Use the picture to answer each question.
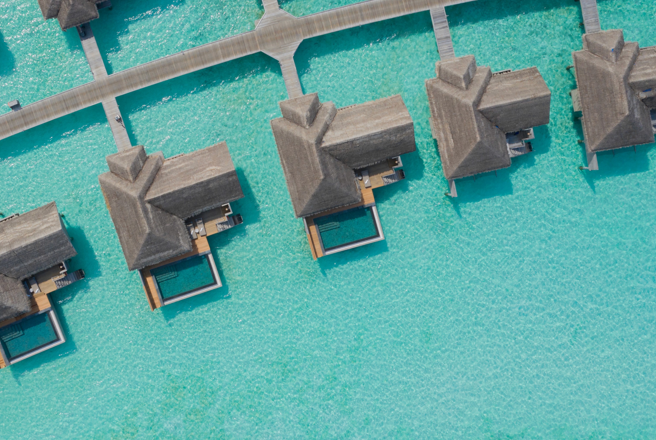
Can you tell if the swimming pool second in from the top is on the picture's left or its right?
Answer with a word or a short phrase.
left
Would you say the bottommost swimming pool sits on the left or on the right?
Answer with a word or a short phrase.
left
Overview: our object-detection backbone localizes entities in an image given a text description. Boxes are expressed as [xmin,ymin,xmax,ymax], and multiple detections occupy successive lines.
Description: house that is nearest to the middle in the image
[270,90,416,260]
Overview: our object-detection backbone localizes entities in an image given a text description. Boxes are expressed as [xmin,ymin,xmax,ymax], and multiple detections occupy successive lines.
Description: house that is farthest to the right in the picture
[564,28,656,170]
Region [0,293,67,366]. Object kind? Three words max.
swimming pool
